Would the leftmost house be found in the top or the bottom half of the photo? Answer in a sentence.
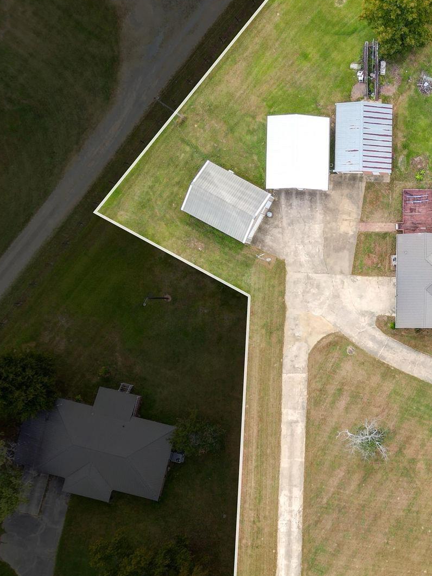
It is in the bottom half that the leftmost house appears.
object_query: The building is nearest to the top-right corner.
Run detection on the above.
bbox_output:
[332,101,393,175]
